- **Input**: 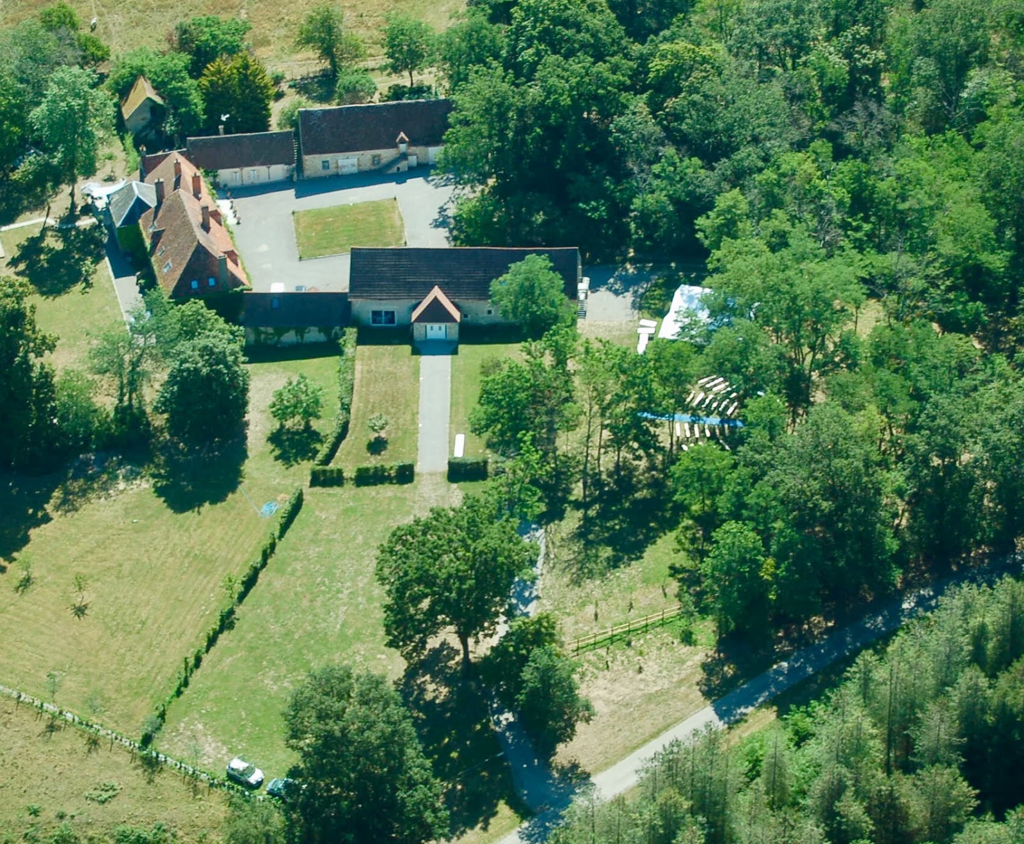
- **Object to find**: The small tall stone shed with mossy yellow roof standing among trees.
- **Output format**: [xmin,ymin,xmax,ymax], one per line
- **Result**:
[111,80,164,135]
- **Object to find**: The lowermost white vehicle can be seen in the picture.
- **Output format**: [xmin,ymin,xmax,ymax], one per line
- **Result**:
[228,759,262,786]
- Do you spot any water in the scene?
No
